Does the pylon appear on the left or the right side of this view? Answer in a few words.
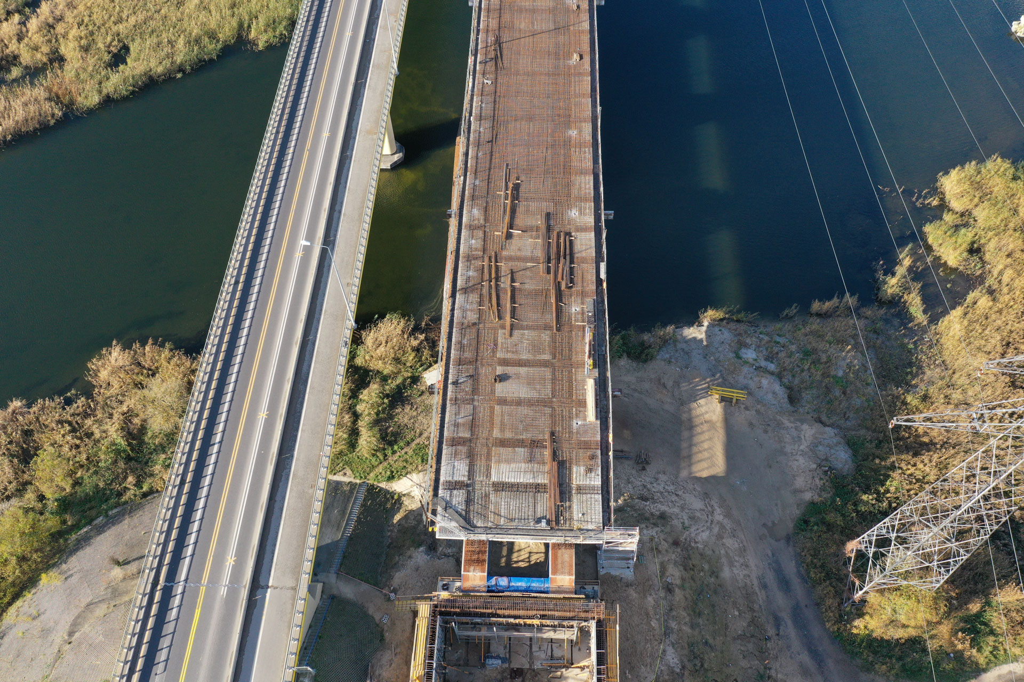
right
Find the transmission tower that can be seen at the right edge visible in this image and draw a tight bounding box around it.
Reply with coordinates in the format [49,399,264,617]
[831,353,1024,607]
